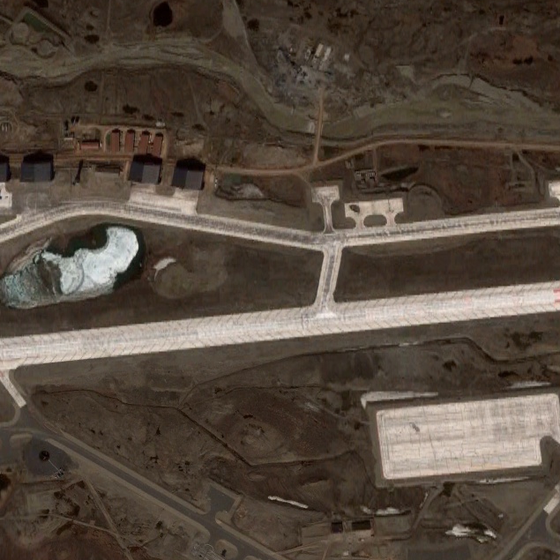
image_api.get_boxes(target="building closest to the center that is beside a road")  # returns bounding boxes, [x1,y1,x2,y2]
[171,166,204,190]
